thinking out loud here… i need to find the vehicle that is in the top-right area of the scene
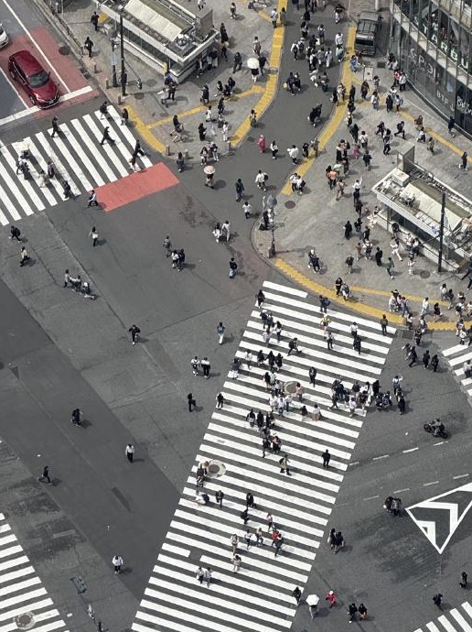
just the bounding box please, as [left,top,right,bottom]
[349,2,381,66]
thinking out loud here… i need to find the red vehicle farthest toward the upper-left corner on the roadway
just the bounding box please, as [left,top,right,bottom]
[7,49,57,107]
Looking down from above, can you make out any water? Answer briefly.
No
